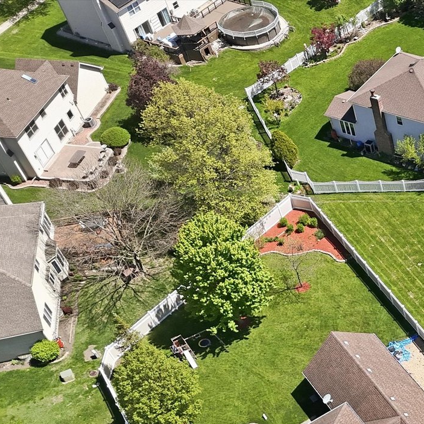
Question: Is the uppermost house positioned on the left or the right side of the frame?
left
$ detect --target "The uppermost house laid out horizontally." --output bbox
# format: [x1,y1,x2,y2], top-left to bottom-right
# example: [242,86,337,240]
[68,0,185,50]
